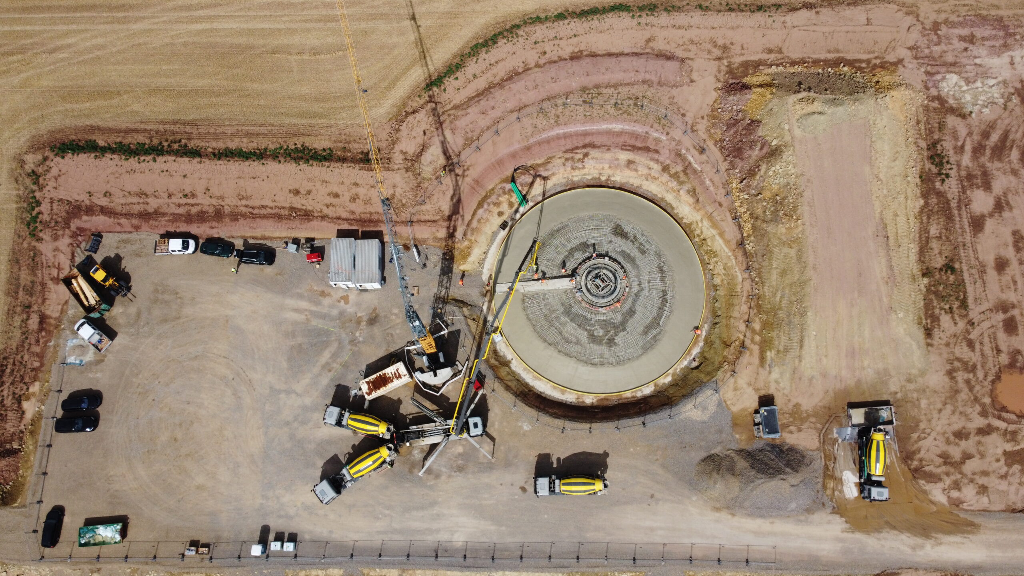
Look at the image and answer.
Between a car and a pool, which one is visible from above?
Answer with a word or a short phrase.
car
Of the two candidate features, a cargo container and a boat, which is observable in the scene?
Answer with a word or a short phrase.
cargo container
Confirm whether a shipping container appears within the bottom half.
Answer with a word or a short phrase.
Yes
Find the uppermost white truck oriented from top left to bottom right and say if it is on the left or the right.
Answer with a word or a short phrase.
left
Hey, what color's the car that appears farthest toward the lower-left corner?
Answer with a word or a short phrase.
black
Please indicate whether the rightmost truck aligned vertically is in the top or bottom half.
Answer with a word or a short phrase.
bottom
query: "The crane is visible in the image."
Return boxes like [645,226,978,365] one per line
[334,0,456,384]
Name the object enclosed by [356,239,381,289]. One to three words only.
shipping container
